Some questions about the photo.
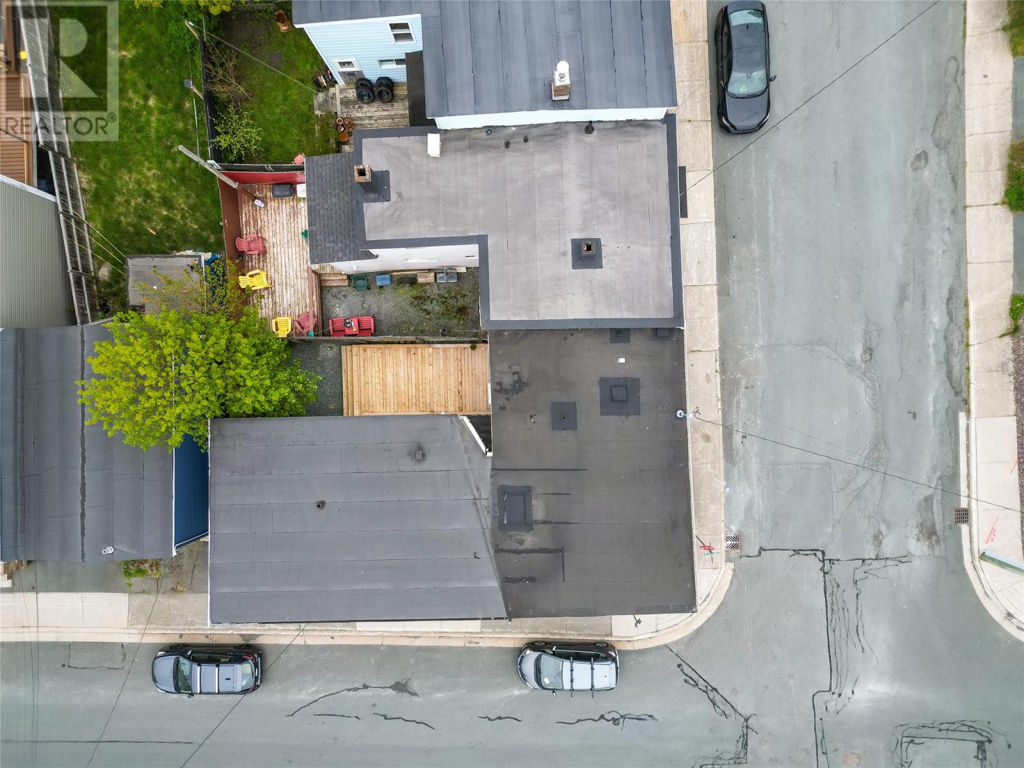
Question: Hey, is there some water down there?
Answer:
No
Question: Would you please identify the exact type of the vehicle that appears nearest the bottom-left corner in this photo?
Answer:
automobile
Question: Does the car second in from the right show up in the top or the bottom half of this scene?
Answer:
bottom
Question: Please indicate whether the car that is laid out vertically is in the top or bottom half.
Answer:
top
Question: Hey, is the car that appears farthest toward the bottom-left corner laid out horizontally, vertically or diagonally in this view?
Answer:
horizontally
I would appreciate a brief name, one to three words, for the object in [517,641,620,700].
car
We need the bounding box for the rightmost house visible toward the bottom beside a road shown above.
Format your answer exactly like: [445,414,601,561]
[484,328,700,619]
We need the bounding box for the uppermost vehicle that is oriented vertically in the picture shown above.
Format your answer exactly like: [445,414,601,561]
[715,1,779,135]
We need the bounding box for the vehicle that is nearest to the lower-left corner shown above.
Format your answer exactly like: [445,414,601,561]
[151,645,263,701]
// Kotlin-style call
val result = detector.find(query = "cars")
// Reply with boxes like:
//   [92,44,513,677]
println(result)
[151,645,263,701]
[517,641,620,700]
[715,1,779,135]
